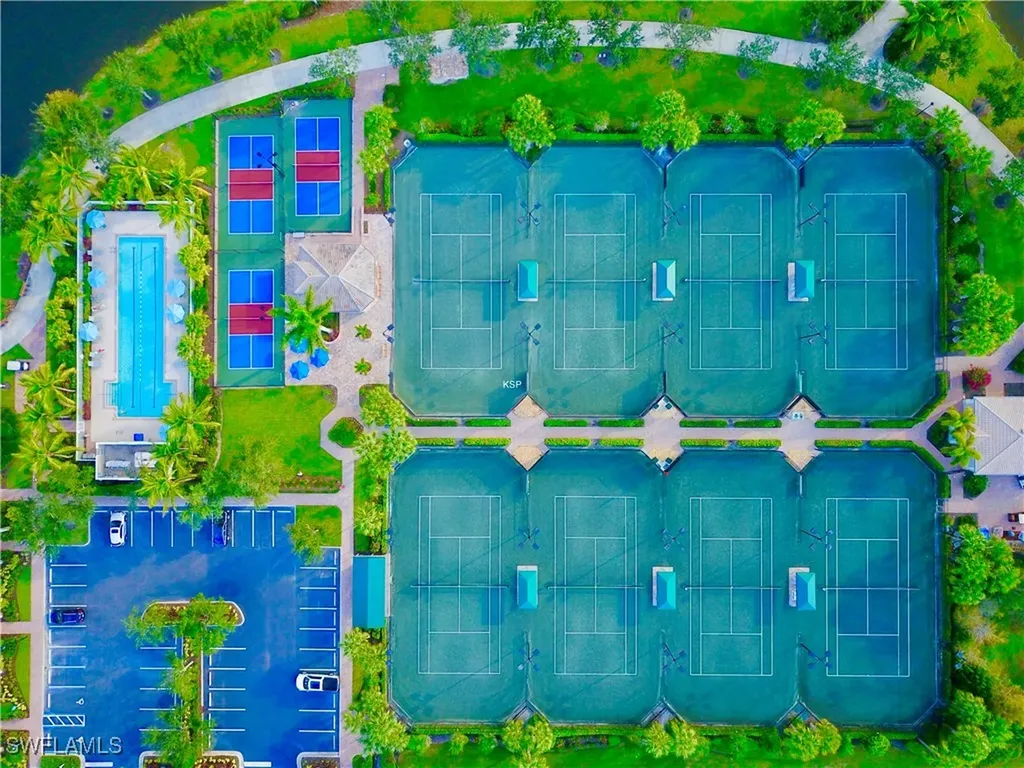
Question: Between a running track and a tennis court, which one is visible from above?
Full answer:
Of the two, only a tennis court appears.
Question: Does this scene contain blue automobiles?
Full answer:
Yes, the frame does contain a blue automobile.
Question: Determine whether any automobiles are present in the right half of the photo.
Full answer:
No, I see no automobile in the right half of the photo.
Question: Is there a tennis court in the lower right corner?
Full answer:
Yes, a tennis court can be seen in the lower right corner.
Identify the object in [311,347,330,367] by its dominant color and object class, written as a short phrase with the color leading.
blue umbrella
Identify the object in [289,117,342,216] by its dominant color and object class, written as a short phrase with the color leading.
blue sports court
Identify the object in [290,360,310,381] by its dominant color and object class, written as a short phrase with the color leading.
blue umbrella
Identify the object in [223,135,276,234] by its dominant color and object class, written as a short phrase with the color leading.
blue sports court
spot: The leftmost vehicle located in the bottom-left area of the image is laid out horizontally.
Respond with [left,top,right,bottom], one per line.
[50,609,87,627]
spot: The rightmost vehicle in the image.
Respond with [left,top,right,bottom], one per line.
[296,672,340,693]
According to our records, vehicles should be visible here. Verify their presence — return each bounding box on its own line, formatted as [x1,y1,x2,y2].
[5,361,30,371]
[109,510,128,547]
[296,672,340,693]
[50,609,87,627]
[212,510,231,547]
